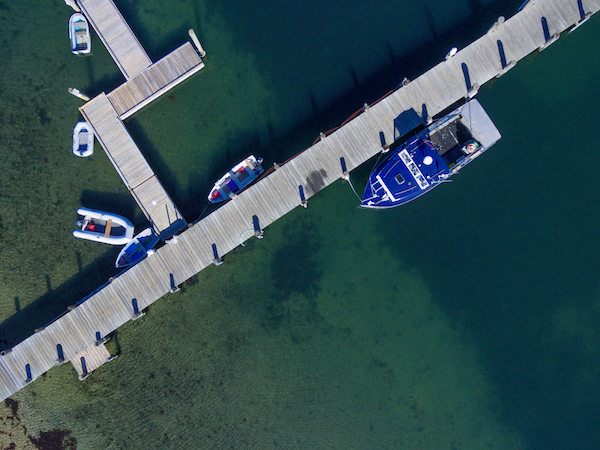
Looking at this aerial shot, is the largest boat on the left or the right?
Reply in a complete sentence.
You can find the largest boat on the right side of the picture.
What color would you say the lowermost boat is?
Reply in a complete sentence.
From above, the lowermost boat appears blue.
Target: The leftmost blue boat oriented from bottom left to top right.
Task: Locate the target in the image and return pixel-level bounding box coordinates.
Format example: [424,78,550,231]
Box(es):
[114,228,161,268]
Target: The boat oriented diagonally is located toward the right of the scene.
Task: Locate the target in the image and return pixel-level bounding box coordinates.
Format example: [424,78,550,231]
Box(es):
[360,97,503,210]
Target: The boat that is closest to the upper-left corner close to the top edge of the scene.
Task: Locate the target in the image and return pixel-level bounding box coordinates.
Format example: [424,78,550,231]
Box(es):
[71,12,92,60]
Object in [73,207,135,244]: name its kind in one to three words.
boat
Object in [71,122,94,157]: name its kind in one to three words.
boat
